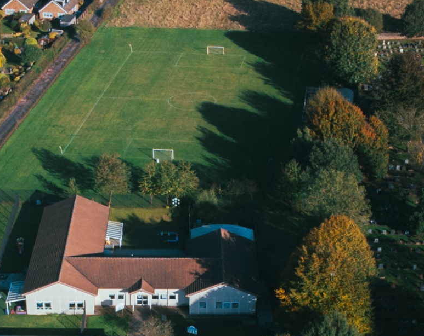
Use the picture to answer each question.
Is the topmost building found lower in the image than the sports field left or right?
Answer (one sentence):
The topmost building found lower in the image than the sports field is on the left side of the image.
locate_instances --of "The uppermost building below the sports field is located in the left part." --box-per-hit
[5,194,260,314]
